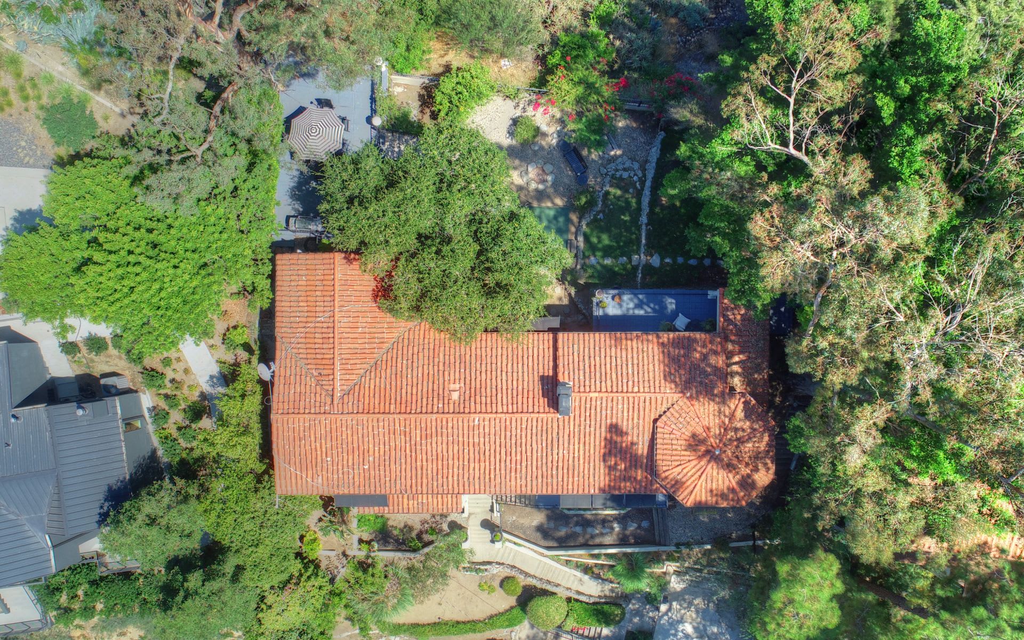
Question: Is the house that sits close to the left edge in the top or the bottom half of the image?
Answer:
bottom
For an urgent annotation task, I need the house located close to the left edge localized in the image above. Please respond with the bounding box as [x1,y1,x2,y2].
[0,340,159,588]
